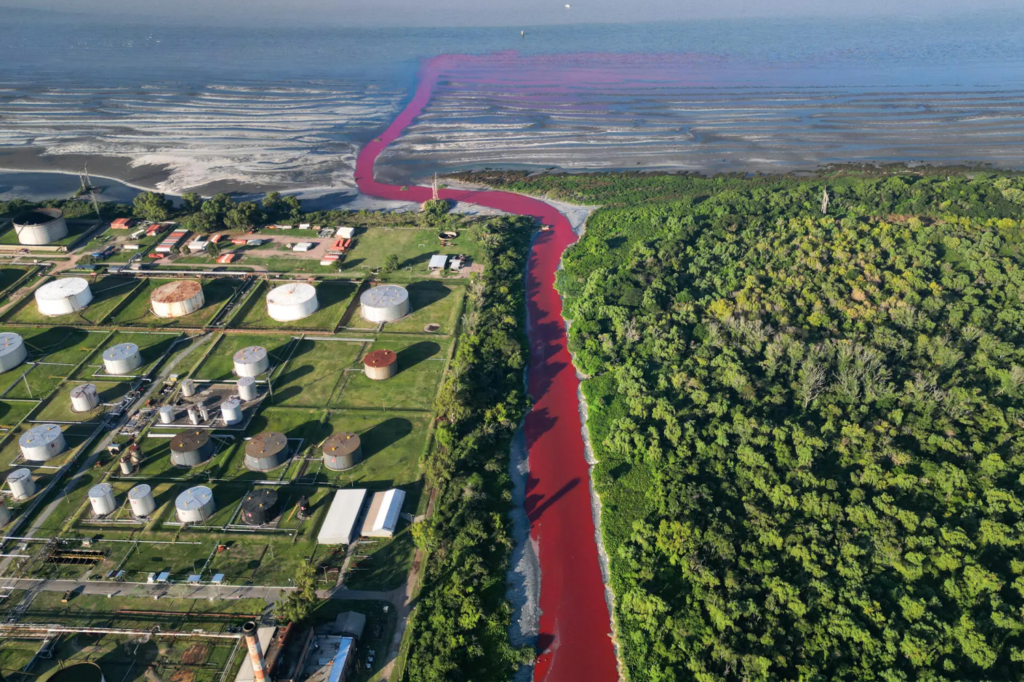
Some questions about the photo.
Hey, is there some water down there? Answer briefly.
Yes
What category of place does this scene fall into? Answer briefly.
industrial area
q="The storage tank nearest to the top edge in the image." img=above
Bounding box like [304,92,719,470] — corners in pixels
[9,206,74,245]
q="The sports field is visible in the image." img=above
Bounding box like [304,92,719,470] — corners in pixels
[340,227,482,272]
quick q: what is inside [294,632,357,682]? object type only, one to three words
building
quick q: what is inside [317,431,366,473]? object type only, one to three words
storage tank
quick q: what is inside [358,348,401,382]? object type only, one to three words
storage tank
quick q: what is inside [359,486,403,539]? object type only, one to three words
shed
